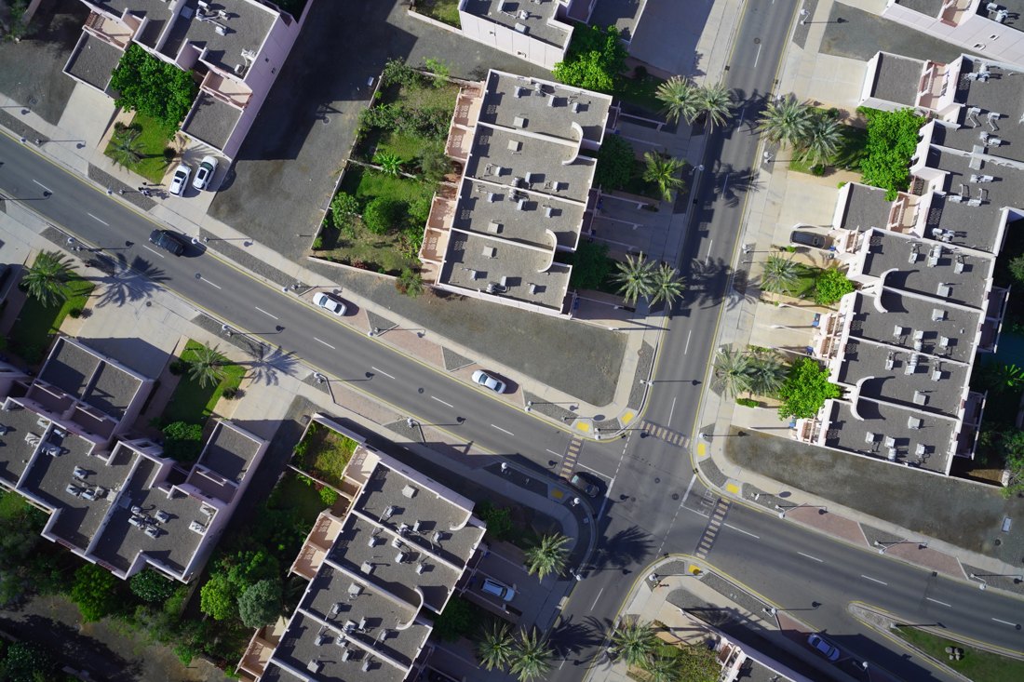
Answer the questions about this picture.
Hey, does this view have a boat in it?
No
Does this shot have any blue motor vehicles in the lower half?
Yes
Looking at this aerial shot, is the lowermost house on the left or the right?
right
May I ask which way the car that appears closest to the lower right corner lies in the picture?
diagonally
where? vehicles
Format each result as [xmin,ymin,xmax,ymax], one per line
[193,156,219,192]
[169,163,192,197]
[806,631,840,660]
[471,370,507,394]
[150,229,188,258]
[313,291,348,317]
[788,230,826,250]
[568,471,602,497]
[416,667,451,682]
[481,577,515,600]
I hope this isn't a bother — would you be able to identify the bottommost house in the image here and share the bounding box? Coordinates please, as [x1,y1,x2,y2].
[707,634,814,682]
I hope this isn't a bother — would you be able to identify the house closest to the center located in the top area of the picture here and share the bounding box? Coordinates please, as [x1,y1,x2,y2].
[417,70,620,319]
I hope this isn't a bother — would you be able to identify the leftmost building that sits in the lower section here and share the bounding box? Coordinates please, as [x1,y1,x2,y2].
[0,337,272,582]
